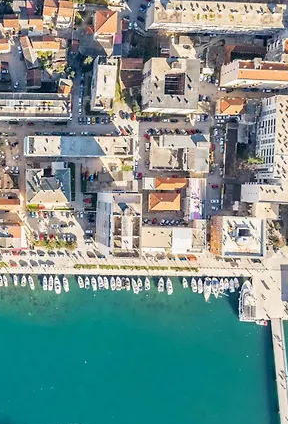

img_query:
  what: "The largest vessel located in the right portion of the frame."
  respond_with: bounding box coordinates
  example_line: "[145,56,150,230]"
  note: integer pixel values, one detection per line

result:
[239,281,257,324]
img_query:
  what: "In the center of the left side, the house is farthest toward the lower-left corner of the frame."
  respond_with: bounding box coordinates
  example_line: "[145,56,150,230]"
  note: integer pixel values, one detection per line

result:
[0,225,28,251]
